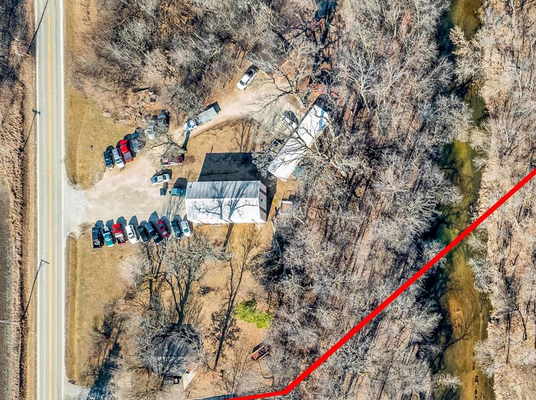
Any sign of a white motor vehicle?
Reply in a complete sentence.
Yes, the picture does show a white motor vehicle.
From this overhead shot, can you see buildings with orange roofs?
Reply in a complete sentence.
No, I can see no building with an orange roof in this picture.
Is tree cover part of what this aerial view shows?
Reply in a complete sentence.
Yes, some tree cover is visible.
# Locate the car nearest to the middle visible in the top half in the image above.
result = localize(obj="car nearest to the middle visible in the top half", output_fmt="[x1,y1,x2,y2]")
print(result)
[267,137,286,152]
